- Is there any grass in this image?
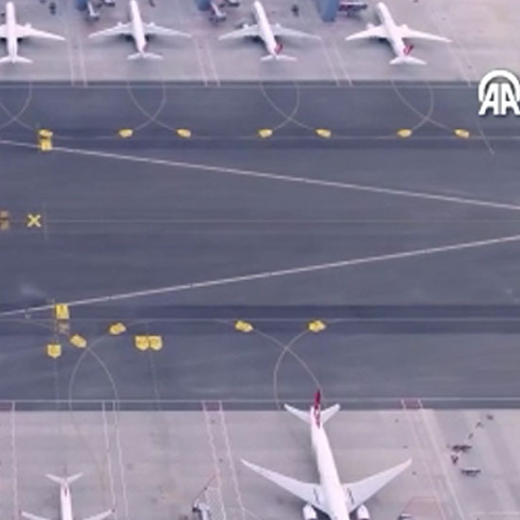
No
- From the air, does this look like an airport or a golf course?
airport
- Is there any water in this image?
No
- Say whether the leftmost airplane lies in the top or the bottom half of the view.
top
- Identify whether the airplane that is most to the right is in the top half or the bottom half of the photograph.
top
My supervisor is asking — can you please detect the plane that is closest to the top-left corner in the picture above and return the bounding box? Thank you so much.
[0,0,65,61]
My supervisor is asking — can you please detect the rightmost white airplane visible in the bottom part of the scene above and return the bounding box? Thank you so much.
[242,399,411,520]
